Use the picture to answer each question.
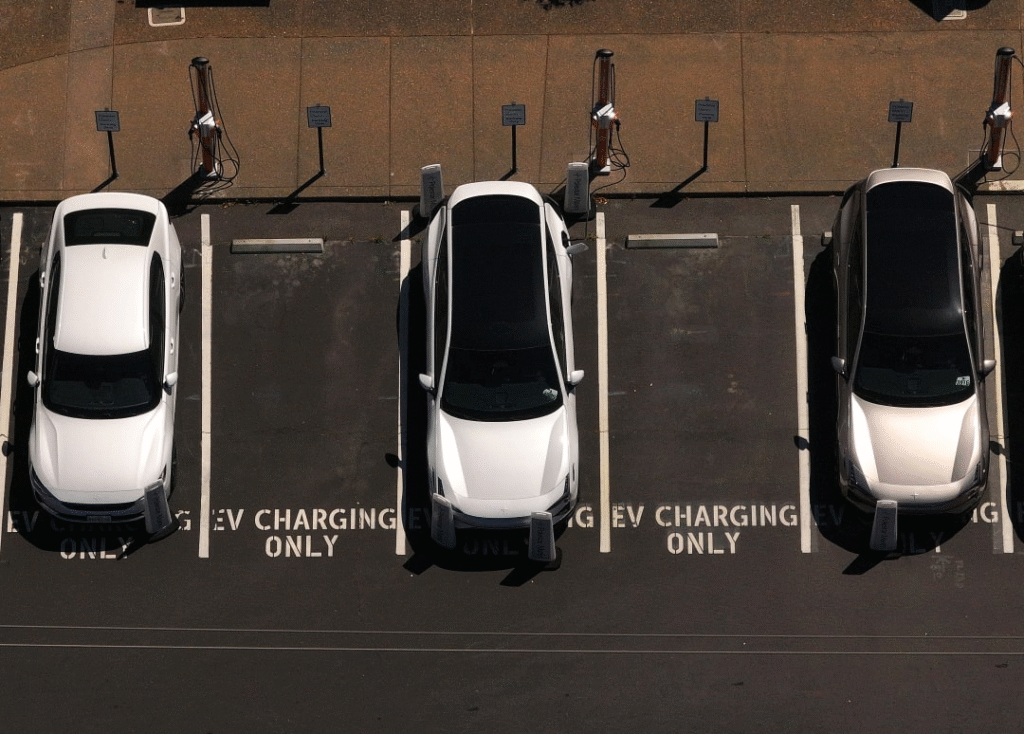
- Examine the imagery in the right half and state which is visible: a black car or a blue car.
black car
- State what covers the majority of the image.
paved ground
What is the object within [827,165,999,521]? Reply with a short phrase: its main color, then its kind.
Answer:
black car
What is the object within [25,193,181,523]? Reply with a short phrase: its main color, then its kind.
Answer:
white car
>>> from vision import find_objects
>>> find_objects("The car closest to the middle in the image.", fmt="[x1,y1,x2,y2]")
[416,181,588,538]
